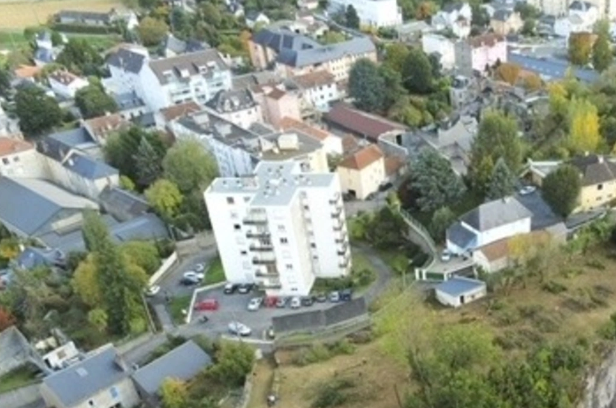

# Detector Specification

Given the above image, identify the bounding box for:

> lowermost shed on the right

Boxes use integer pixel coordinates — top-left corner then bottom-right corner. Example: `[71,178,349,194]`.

[436,275,480,311]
